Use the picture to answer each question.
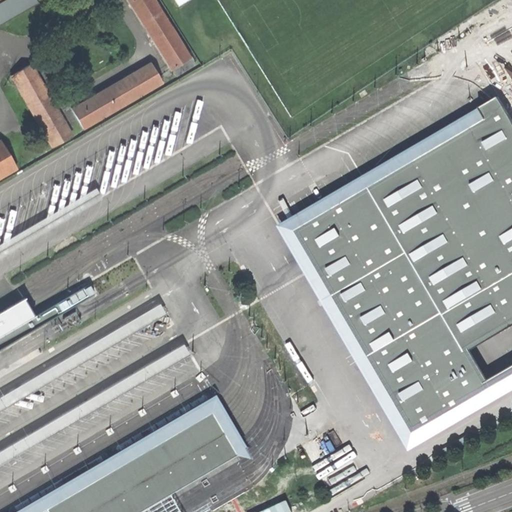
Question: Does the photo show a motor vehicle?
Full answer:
Yes, this view includes a motor vehicle.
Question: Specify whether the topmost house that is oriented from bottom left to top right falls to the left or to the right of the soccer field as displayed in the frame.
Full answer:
The topmost house that is oriented from bottom left to top right can be seen on the left of the soccer field.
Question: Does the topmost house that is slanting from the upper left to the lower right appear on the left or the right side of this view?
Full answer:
The topmost house that is slanting from the upper left to the lower right appears in the left half of the scene.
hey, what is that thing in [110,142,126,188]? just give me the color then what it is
white vehicle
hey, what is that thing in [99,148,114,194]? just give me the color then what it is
white vehicle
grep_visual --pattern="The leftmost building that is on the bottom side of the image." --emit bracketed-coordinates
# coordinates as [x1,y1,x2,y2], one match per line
[0,298,38,344]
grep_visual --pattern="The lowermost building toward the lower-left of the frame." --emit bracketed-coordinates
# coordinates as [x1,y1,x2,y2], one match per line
[17,396,252,512]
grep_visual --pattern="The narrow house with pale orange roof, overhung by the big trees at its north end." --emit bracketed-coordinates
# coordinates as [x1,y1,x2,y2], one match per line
[11,66,74,148]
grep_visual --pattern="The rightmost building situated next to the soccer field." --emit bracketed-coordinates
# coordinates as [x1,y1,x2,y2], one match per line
[279,97,512,451]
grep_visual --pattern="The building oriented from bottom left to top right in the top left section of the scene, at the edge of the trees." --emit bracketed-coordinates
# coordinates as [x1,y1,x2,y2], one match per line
[73,62,164,130]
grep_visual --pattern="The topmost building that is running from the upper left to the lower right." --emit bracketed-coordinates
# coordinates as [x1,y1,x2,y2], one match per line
[128,0,194,74]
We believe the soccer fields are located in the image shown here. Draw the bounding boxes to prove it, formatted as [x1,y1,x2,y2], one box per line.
[158,0,500,137]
